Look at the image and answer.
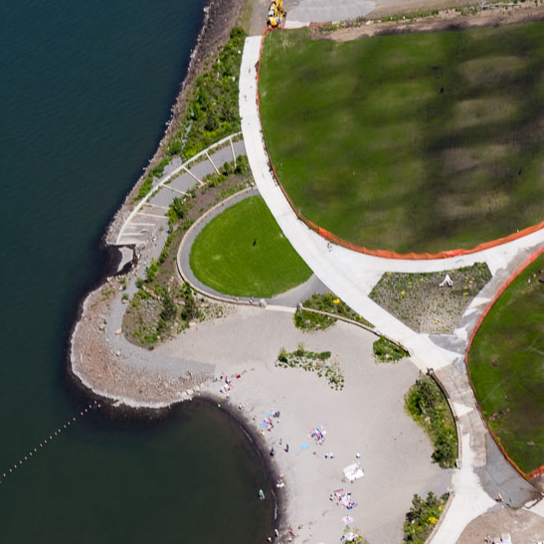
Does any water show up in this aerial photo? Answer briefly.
Yes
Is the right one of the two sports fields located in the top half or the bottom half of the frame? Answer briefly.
bottom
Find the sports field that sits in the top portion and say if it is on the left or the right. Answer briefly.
right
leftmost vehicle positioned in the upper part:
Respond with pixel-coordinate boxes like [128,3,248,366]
[267,0,289,26]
